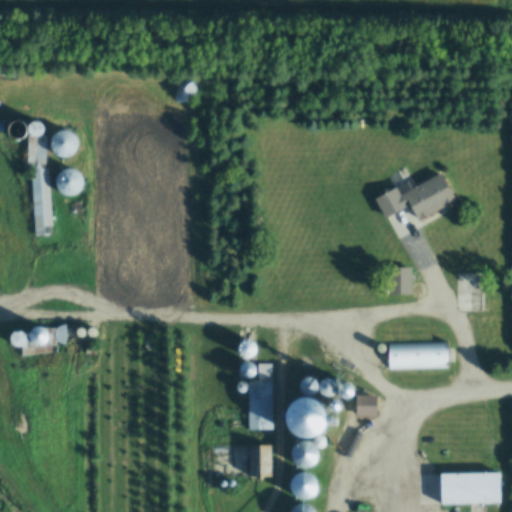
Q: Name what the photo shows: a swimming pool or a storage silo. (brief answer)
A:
storage silo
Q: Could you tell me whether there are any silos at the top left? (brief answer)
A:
Yes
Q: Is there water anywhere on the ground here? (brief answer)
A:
No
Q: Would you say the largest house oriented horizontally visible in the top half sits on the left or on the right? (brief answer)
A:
right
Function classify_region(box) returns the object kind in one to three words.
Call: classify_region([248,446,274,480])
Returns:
barn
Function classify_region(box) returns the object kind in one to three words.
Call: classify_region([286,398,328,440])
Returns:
silo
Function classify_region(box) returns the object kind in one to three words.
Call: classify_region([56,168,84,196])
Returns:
silo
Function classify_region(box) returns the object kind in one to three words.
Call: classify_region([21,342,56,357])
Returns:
shed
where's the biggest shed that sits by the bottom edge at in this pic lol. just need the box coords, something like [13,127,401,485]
[442,472,502,506]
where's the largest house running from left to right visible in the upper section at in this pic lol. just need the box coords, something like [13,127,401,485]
[377,174,456,218]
